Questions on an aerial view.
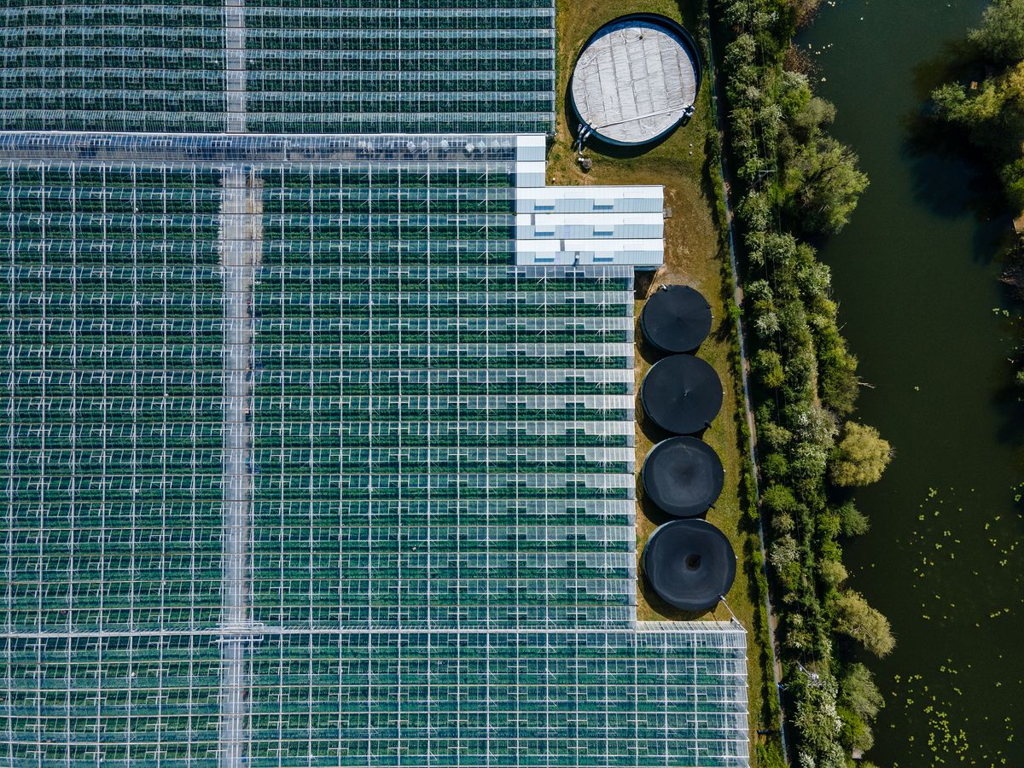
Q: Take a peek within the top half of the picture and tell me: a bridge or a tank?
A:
tank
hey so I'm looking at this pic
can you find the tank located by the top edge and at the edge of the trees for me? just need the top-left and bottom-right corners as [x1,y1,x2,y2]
[570,15,702,152]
